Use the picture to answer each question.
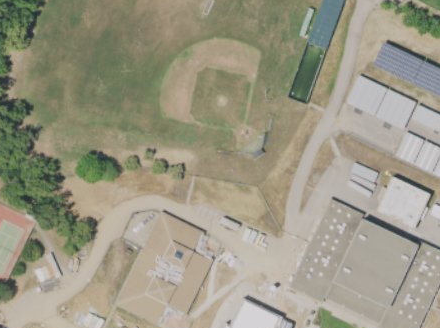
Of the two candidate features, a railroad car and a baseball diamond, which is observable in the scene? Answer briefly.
baseball diamond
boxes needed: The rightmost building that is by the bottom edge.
[290,198,440,328]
